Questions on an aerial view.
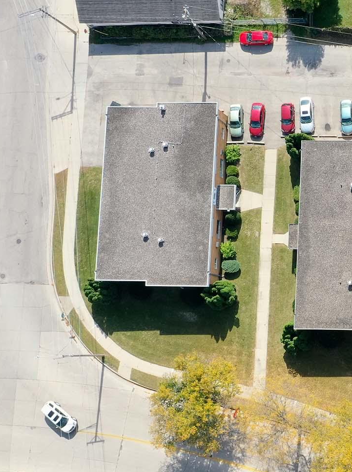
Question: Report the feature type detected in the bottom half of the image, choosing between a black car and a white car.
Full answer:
The feature located in the bottom half of the image is a white car.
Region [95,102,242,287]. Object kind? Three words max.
building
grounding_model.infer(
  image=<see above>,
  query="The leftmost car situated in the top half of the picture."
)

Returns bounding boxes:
[227,103,247,139]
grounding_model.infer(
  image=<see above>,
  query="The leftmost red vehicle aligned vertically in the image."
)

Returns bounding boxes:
[247,102,266,139]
